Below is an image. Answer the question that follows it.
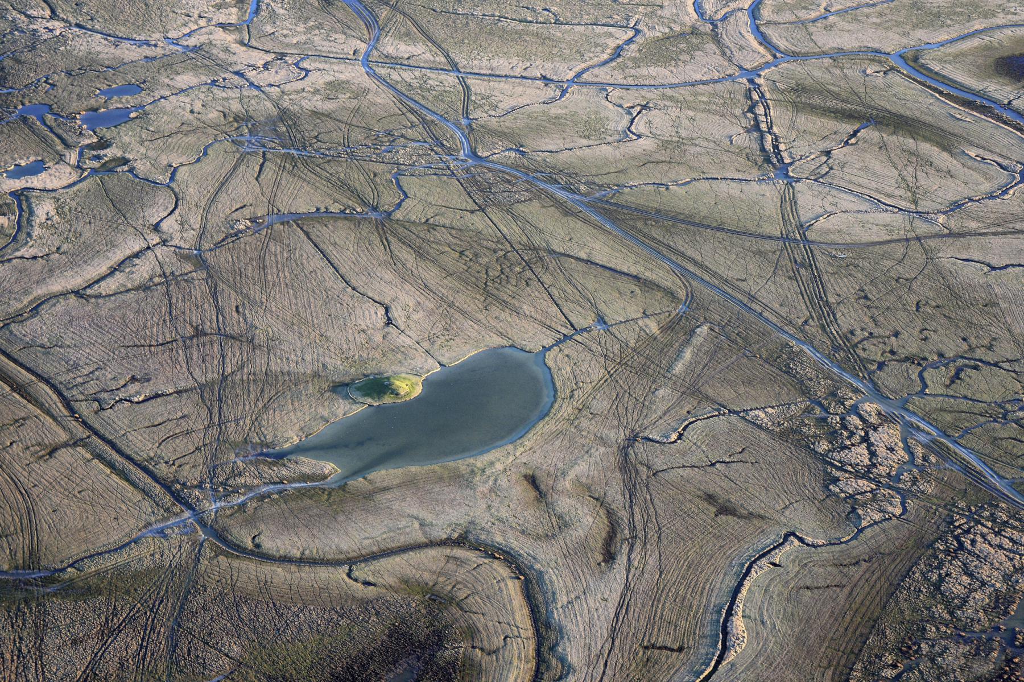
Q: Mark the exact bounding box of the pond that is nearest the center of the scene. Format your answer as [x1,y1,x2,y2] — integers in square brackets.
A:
[269,347,555,488]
